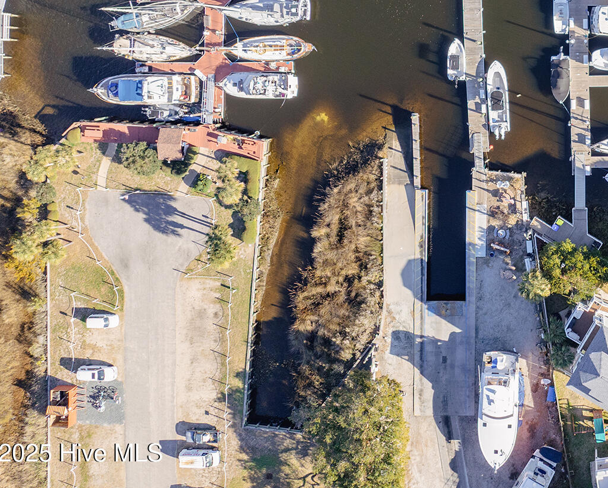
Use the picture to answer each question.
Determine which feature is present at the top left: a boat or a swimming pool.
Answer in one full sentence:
You can see a boat at the top left.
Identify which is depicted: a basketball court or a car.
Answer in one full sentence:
I can see a car in this picture.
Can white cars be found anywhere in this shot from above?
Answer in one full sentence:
Yes, looking at the shot, I can spot a white car.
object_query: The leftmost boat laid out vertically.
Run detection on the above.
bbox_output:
[447,38,466,87]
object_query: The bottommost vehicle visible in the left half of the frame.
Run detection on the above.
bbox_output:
[173,449,221,473]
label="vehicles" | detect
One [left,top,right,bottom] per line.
[73,364,118,385]
[173,449,221,473]
[82,312,119,332]
[185,428,221,449]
